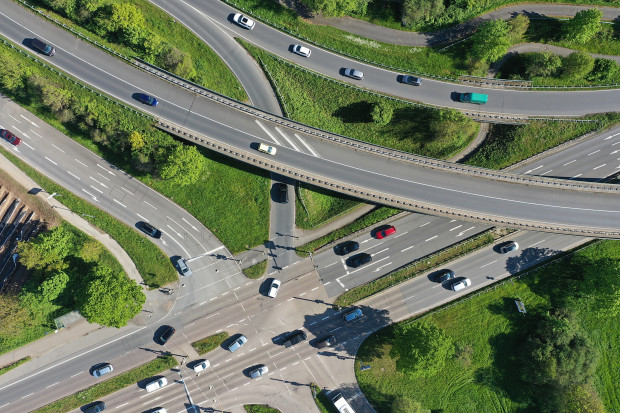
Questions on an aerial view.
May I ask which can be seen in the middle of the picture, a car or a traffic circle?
car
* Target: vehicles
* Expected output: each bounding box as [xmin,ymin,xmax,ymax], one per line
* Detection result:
[282,330,308,351]
[191,358,213,375]
[267,277,280,299]
[450,276,473,294]
[227,334,248,354]
[0,127,22,147]
[232,12,257,31]
[343,67,366,81]
[175,257,193,278]
[314,334,337,350]
[400,74,423,87]
[291,44,314,59]
[27,35,57,58]
[458,91,492,105]
[374,224,398,240]
[84,401,108,413]
[329,387,359,413]
[140,220,163,240]
[348,253,372,268]
[136,91,160,108]
[498,240,520,256]
[248,364,269,380]
[277,183,289,203]
[148,406,168,413]
[434,269,456,285]
[93,363,114,378]
[142,376,170,396]
[157,325,177,345]
[337,240,361,257]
